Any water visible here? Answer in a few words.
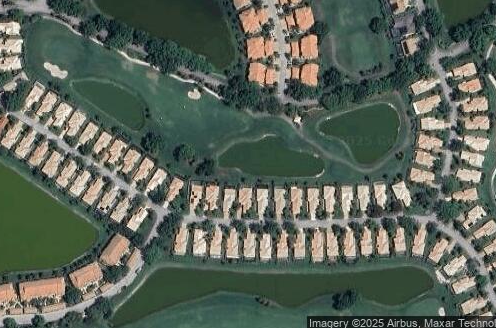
Yes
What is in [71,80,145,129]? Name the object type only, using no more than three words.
pond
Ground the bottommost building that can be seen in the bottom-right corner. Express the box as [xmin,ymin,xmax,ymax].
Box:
[472,308,496,328]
